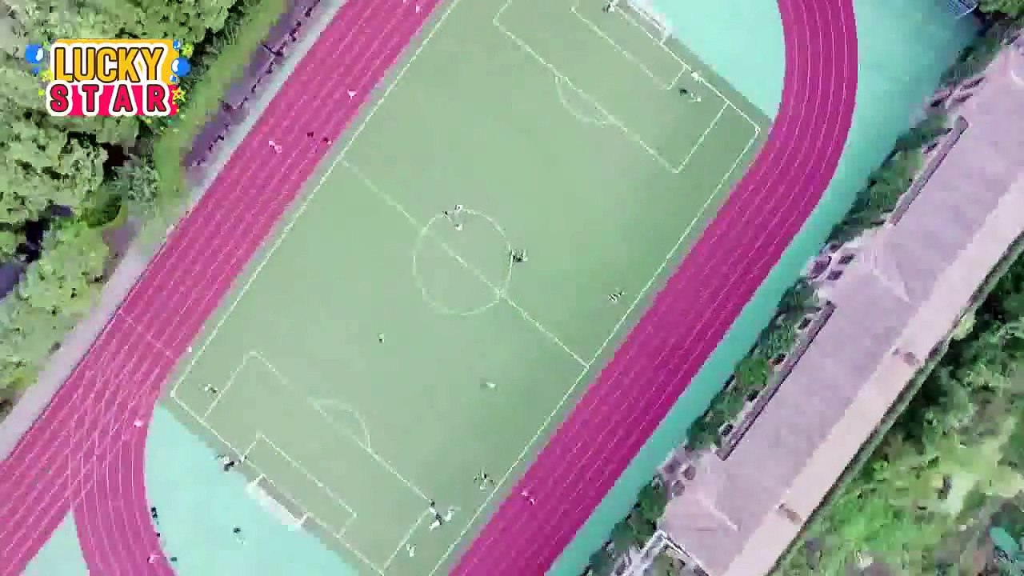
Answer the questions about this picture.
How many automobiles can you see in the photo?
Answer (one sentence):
The picture shows no automobiles.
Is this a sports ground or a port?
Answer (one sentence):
The area seen from above is a sports ground.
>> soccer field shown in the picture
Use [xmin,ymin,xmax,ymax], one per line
[158,0,773,576]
